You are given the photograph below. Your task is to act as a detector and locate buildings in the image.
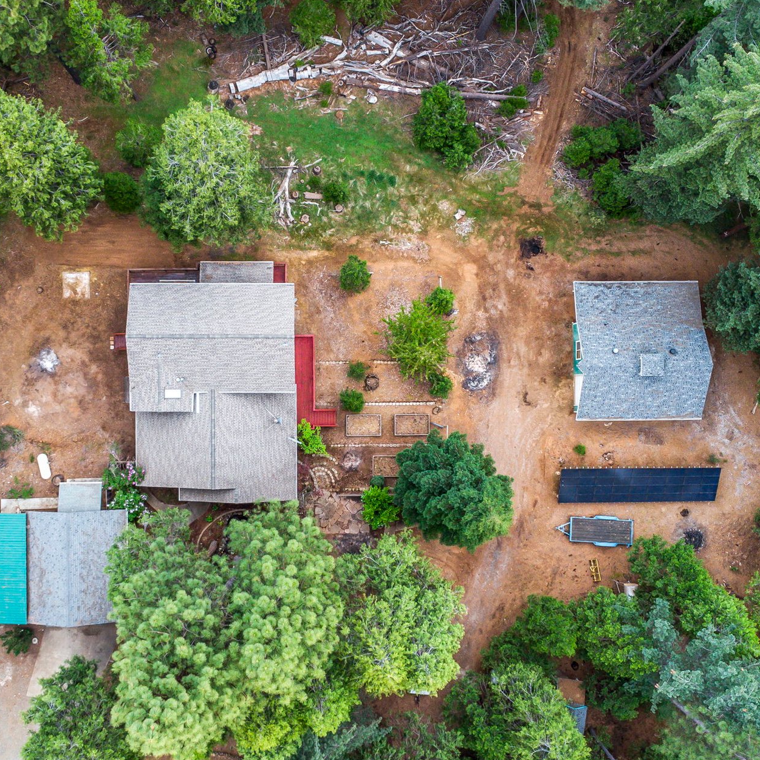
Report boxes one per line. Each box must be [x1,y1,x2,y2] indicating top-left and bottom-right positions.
[124,262,301,504]
[571,280,717,422]
[557,679,588,737]
[27,510,129,628]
